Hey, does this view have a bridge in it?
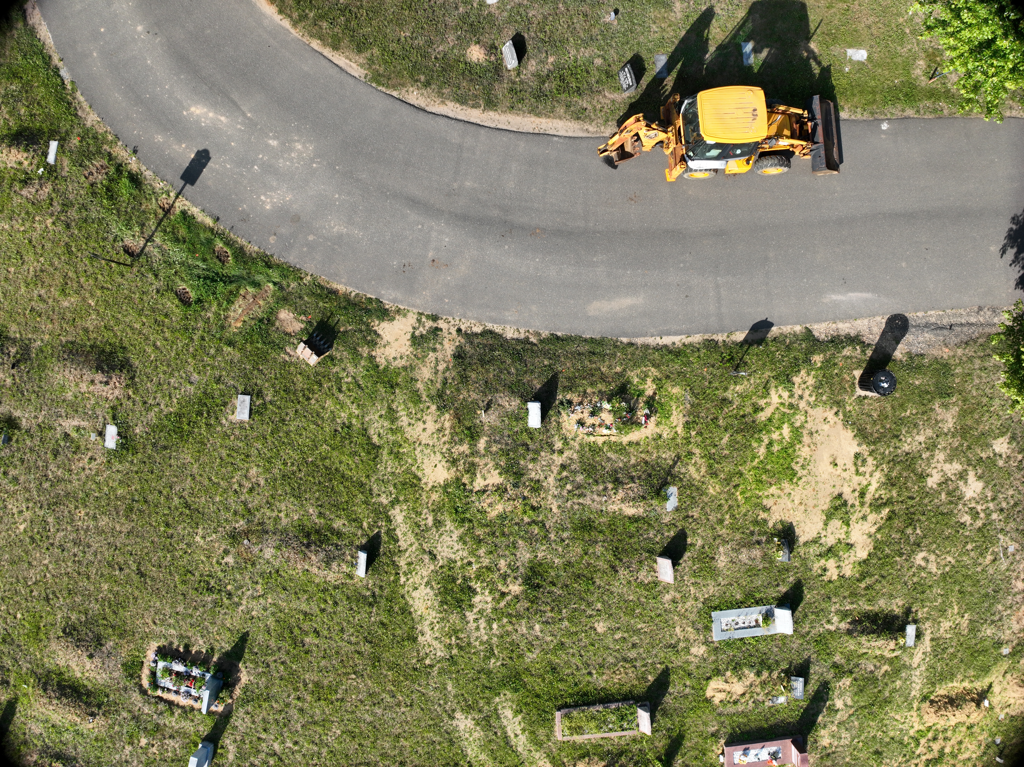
No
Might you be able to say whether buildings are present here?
No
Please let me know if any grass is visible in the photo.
Yes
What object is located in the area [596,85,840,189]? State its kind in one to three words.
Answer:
work vehicle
